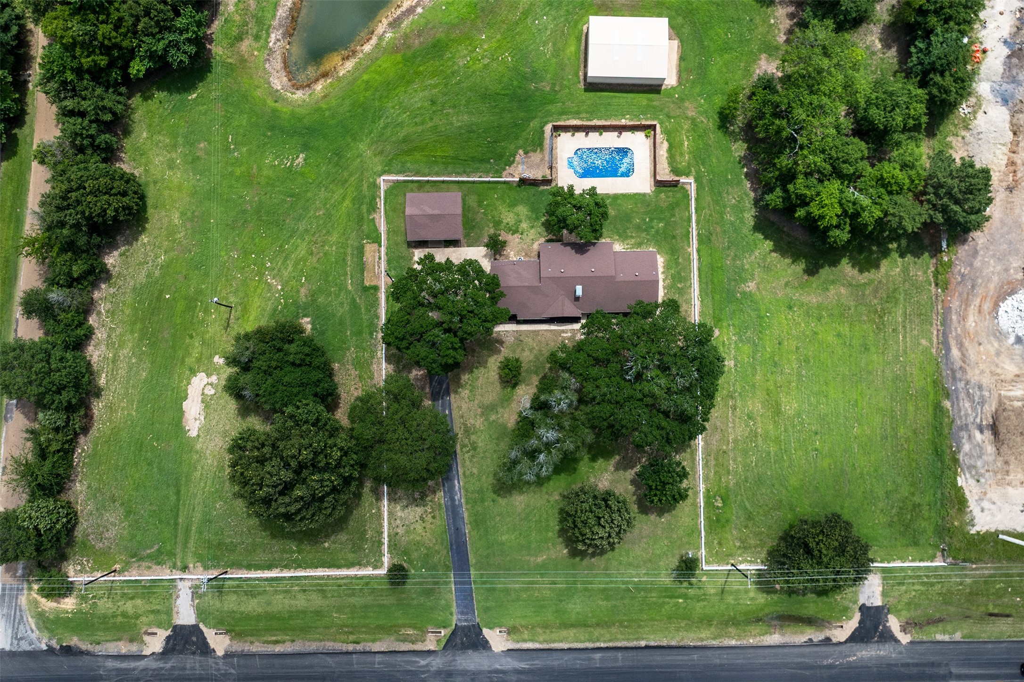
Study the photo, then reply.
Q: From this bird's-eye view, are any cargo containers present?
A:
No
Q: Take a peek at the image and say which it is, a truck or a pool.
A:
pool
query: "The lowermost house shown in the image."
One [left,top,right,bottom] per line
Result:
[490,241,659,320]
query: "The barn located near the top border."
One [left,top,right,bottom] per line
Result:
[586,14,668,85]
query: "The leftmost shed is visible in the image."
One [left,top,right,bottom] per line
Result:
[405,192,462,245]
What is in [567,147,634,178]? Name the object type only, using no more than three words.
swimming pool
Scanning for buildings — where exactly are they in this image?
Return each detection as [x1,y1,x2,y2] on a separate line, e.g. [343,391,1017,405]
[405,192,462,245]
[586,14,668,85]
[490,241,659,320]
